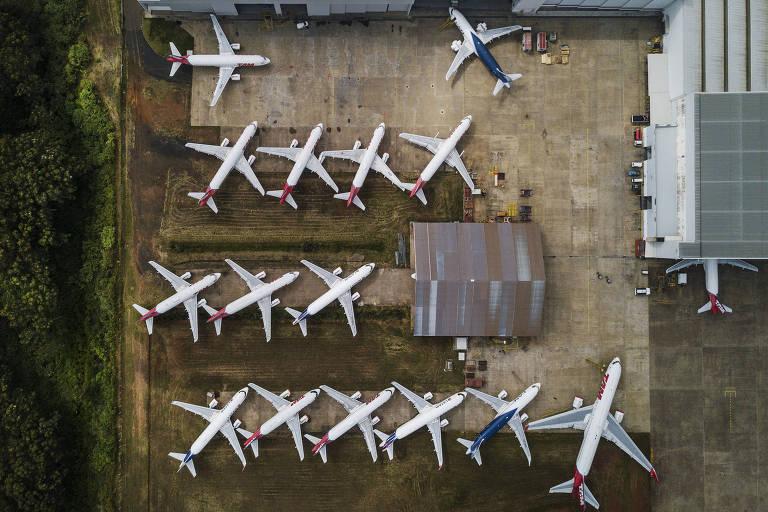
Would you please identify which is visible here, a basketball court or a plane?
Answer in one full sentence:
I can see a plane in this picture.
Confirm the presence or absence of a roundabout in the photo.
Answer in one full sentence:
No, the scene contains no roundabout.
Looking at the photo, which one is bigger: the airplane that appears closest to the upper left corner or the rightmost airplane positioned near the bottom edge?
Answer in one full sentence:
Compared with the airplane that appears closest to the upper left corner, the rightmost airplane positioned near the bottom edge is the bigger one.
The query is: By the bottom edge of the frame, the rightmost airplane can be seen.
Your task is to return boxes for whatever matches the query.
[529,358,658,508]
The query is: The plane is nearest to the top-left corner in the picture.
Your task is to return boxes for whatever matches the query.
[163,13,271,106]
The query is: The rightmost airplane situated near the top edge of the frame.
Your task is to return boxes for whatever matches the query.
[446,7,523,94]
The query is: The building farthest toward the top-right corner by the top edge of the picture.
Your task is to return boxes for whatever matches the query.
[660,0,768,99]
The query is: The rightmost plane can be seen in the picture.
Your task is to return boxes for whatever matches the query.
[665,259,759,315]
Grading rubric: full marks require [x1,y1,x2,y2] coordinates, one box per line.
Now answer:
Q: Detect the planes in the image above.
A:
[133,261,220,342]
[399,115,476,205]
[320,123,405,210]
[170,387,250,475]
[163,13,271,106]
[255,124,339,210]
[374,382,468,468]
[184,121,265,213]
[237,383,321,461]
[446,7,523,94]
[529,358,658,508]
[285,260,376,337]
[305,385,395,463]
[202,259,299,342]
[458,383,543,463]
[665,259,759,315]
